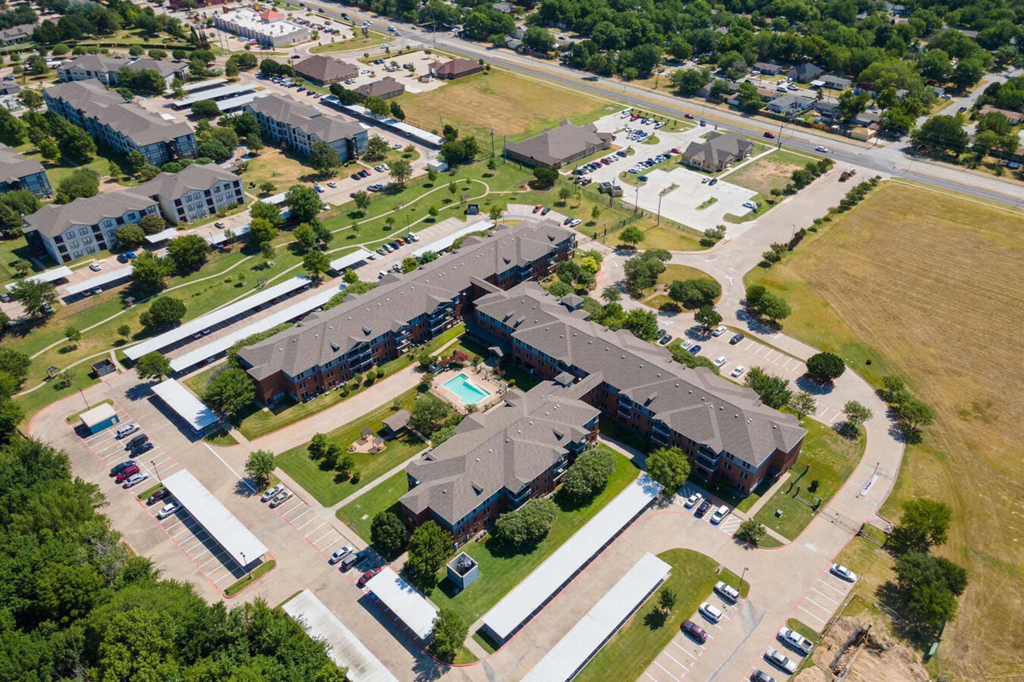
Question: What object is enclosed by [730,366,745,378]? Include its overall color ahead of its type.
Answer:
white vehicle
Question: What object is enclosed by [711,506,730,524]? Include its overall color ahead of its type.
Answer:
white car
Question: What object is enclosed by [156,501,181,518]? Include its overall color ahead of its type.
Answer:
white car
